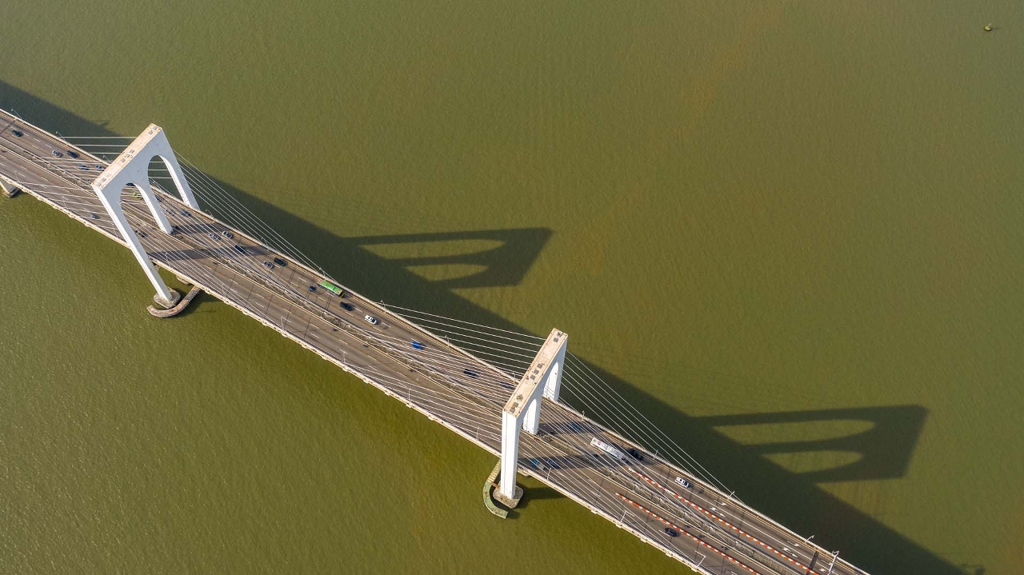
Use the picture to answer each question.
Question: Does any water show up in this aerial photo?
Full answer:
Yes, some water is visible.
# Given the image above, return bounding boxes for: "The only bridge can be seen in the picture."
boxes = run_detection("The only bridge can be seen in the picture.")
[0,107,872,575]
